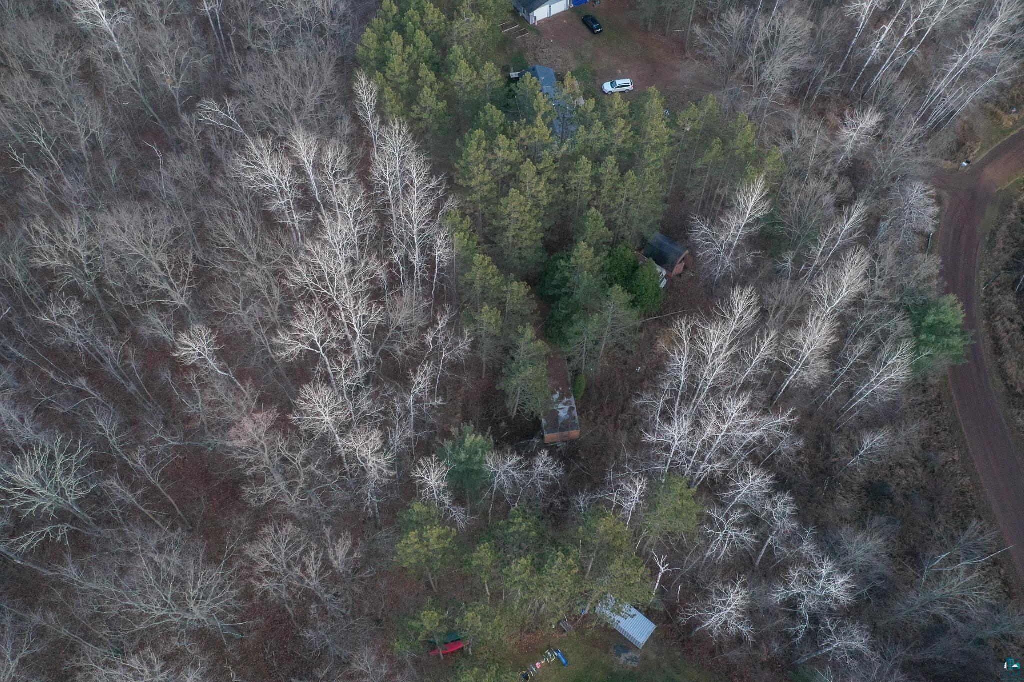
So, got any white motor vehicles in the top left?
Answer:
No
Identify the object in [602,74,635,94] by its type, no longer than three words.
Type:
car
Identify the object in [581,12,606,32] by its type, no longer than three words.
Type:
car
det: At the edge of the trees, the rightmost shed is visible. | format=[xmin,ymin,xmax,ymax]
[648,233,694,279]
